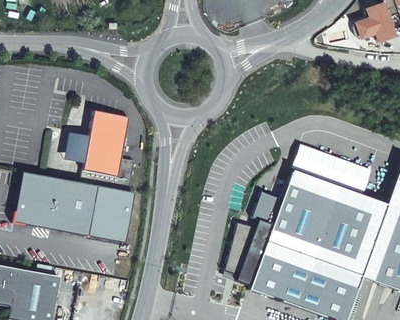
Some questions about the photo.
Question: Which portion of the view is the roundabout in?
top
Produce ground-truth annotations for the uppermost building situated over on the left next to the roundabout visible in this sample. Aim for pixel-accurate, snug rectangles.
[84,110,128,176]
